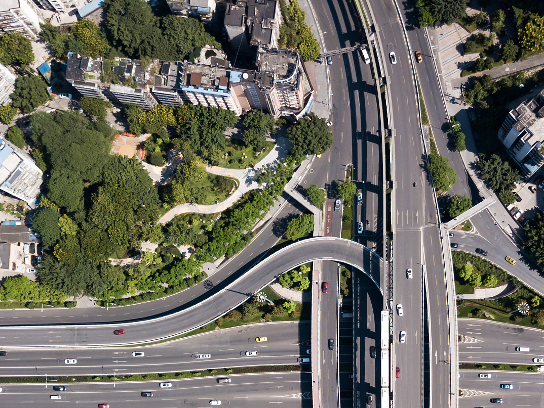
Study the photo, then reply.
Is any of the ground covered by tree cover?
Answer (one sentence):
Yes, the picture does contain tree cover.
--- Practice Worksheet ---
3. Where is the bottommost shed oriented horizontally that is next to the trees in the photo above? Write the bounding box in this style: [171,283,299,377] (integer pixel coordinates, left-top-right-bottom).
[0,225,42,244]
